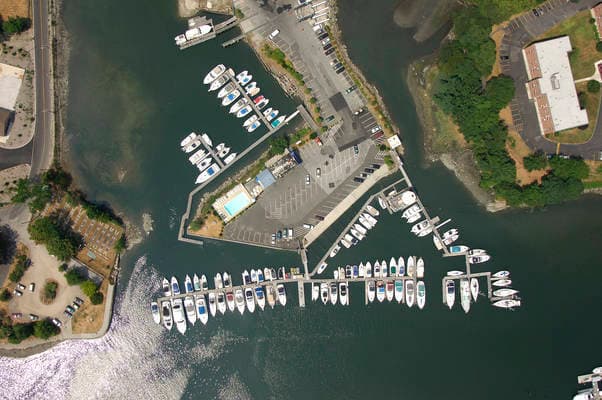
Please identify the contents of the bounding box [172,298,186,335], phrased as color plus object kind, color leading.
white boat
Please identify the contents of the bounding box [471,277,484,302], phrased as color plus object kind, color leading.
white boat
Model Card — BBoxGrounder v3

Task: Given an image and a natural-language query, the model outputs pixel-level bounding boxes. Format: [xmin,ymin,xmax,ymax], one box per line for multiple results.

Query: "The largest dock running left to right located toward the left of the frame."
[158,266,305,324]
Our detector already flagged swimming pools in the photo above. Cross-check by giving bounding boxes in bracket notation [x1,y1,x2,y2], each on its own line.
[213,184,255,224]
